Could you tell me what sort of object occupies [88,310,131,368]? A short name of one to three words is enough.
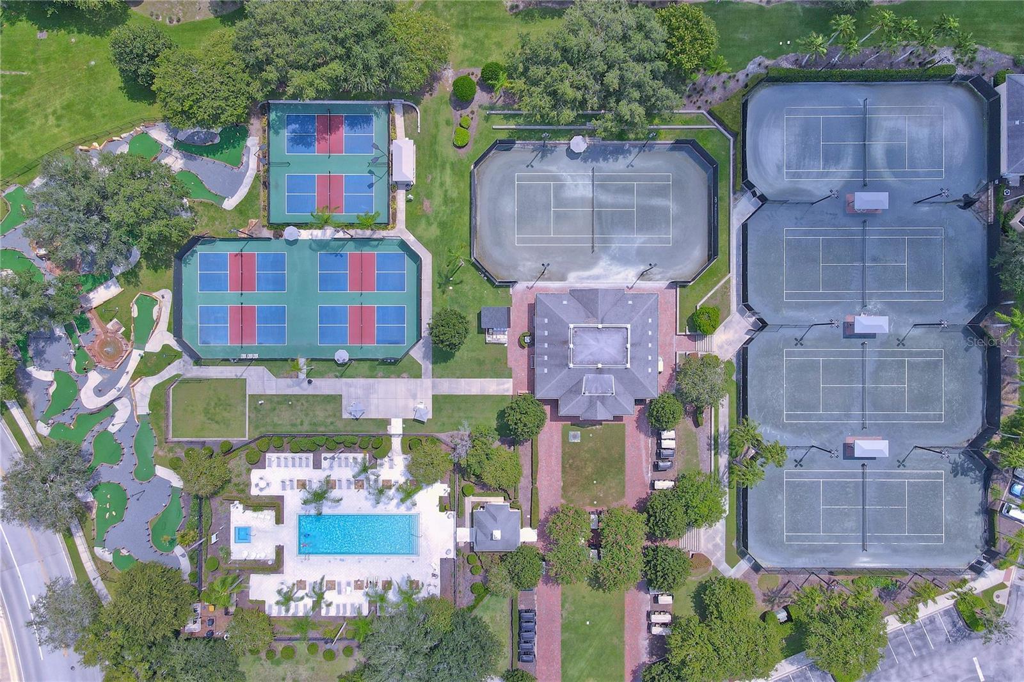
fountain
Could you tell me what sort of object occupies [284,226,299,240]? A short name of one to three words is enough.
umbrella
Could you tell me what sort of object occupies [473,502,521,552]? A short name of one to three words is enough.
building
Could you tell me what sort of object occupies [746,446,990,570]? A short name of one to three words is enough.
tennis court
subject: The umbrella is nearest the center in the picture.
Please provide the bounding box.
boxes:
[414,404,429,420]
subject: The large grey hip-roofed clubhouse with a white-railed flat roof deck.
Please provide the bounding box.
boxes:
[535,289,658,420]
